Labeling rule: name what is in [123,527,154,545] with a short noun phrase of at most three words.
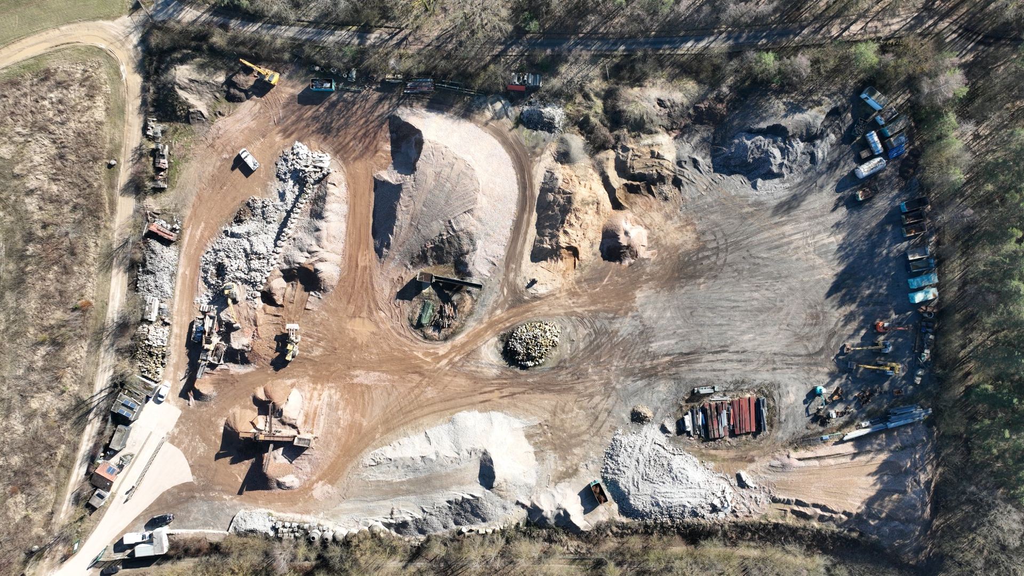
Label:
vehicle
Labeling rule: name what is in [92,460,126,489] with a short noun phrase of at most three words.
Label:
house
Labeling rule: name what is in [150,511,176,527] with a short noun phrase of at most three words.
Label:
car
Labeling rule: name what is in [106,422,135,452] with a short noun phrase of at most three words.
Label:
shed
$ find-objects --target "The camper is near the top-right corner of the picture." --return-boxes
[855,86,889,113]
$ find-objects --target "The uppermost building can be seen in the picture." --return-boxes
[111,390,149,421]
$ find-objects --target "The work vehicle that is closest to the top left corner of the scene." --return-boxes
[235,53,283,91]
